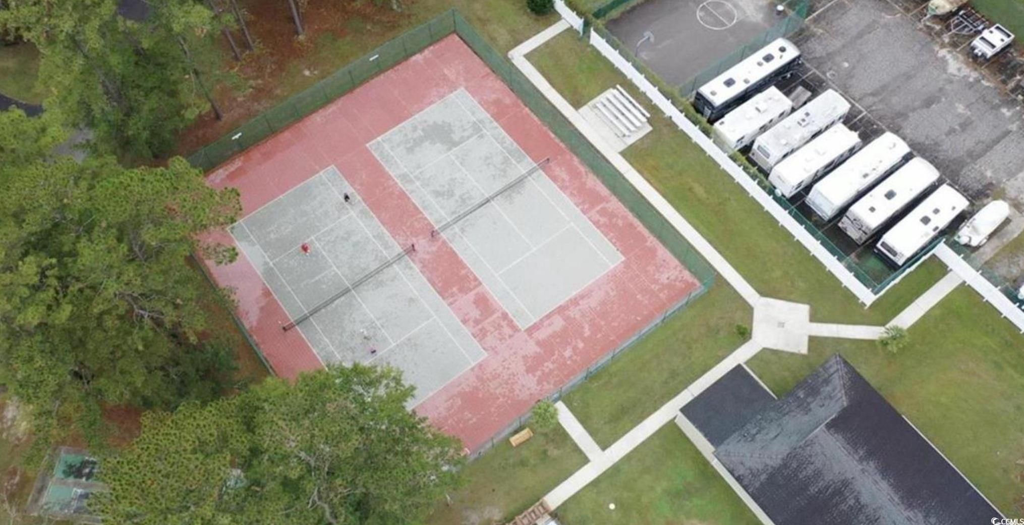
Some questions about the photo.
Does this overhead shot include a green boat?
No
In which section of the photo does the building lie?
bottom right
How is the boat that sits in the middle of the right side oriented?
on a diagonal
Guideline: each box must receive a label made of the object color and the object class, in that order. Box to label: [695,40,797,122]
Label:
white camper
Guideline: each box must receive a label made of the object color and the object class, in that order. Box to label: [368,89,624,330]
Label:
white tennis court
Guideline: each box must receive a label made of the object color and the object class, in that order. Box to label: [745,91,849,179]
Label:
white camper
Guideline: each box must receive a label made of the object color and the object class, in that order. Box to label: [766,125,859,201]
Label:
white trailer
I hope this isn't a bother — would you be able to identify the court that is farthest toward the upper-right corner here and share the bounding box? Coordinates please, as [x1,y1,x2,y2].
[602,0,824,95]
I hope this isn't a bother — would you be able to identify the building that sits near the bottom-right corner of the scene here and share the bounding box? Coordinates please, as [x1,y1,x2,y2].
[673,353,1017,525]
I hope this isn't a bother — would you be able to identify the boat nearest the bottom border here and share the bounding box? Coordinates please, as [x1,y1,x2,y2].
[954,204,1009,252]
